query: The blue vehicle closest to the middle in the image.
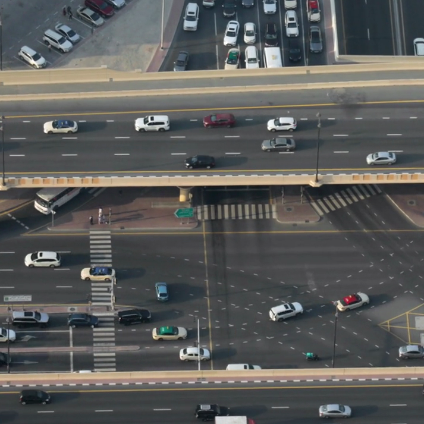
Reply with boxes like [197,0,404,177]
[155,282,168,302]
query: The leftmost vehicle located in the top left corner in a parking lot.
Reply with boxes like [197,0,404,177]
[17,44,47,69]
